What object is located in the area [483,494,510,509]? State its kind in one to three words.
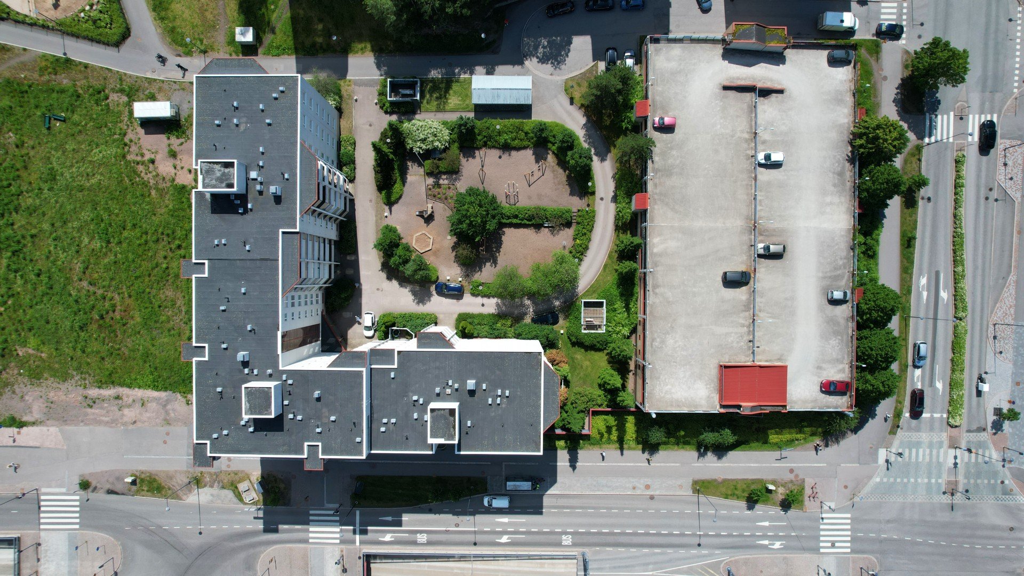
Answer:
vehicle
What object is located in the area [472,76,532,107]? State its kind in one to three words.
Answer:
shed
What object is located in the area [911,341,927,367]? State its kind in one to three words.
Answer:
car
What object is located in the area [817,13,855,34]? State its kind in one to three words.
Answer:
truck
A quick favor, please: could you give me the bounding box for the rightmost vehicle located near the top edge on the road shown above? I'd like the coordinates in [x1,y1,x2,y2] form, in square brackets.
[875,22,904,37]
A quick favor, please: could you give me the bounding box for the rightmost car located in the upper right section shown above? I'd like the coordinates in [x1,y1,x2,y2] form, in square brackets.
[979,119,997,150]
